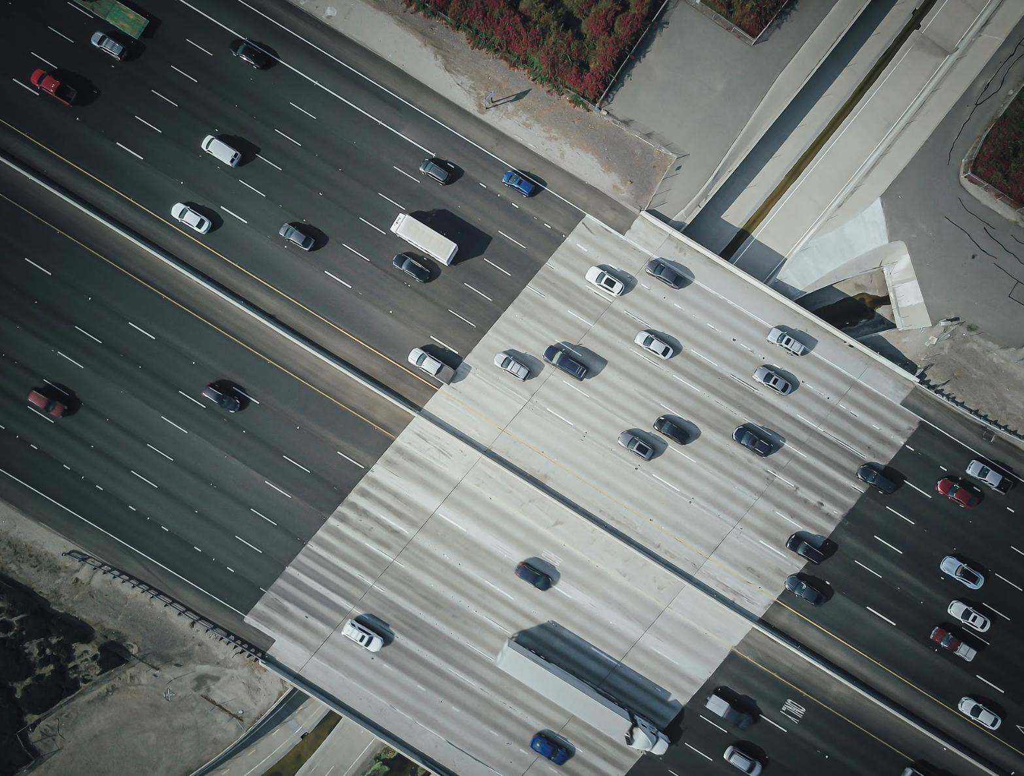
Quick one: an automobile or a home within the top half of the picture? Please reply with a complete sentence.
You can see an automobile within the top half of the picture.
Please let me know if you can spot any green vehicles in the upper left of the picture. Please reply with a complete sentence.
Yes, a green vehicle appears in the upper left of the picture.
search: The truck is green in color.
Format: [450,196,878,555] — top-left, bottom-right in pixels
[74,0,150,40]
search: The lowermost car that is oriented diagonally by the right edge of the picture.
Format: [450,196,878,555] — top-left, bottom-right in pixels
[956,696,1000,729]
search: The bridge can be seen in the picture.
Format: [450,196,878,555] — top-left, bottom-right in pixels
[245,212,921,776]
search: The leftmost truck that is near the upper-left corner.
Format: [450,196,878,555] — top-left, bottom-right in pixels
[29,66,80,106]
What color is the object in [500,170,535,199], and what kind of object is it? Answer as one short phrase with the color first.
blue car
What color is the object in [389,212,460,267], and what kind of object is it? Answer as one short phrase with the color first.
white truck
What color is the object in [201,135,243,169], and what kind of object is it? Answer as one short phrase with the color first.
white vehicle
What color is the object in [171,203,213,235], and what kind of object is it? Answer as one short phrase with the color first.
white car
